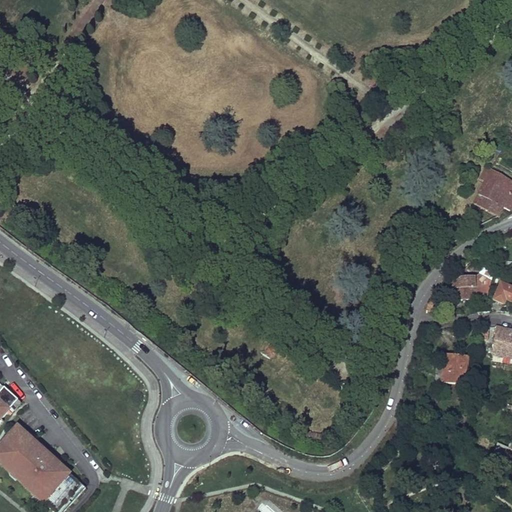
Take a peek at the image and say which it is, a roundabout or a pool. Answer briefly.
roundabout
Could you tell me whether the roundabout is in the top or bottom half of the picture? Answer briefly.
bottom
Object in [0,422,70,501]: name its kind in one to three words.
building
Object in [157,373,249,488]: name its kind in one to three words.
roundabout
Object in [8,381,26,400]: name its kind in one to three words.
vehicle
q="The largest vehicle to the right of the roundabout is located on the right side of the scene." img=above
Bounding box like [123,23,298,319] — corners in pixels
[327,460,348,472]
